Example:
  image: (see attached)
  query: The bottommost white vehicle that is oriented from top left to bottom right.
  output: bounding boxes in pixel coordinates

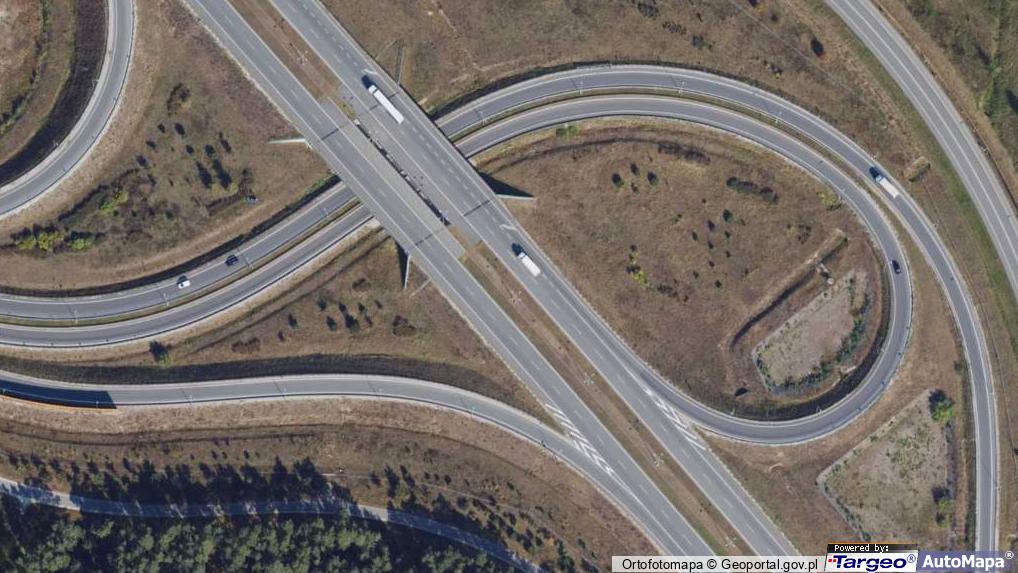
[518,252,541,277]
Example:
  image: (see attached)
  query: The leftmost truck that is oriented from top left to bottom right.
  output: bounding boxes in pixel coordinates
[369,84,405,123]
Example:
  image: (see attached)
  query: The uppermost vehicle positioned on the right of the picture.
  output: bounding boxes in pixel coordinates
[876,174,900,198]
